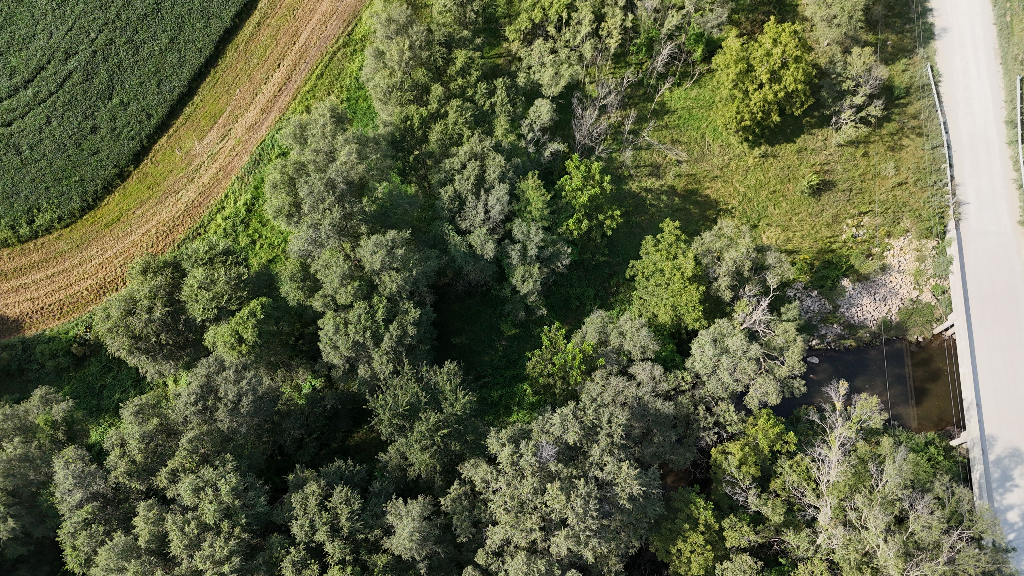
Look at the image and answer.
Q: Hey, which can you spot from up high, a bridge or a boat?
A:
bridge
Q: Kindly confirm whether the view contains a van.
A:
No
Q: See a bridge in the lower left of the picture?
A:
No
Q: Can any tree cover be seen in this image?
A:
Yes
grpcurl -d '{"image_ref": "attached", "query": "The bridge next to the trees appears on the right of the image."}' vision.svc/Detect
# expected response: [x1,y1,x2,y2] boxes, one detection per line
[934,209,999,570]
